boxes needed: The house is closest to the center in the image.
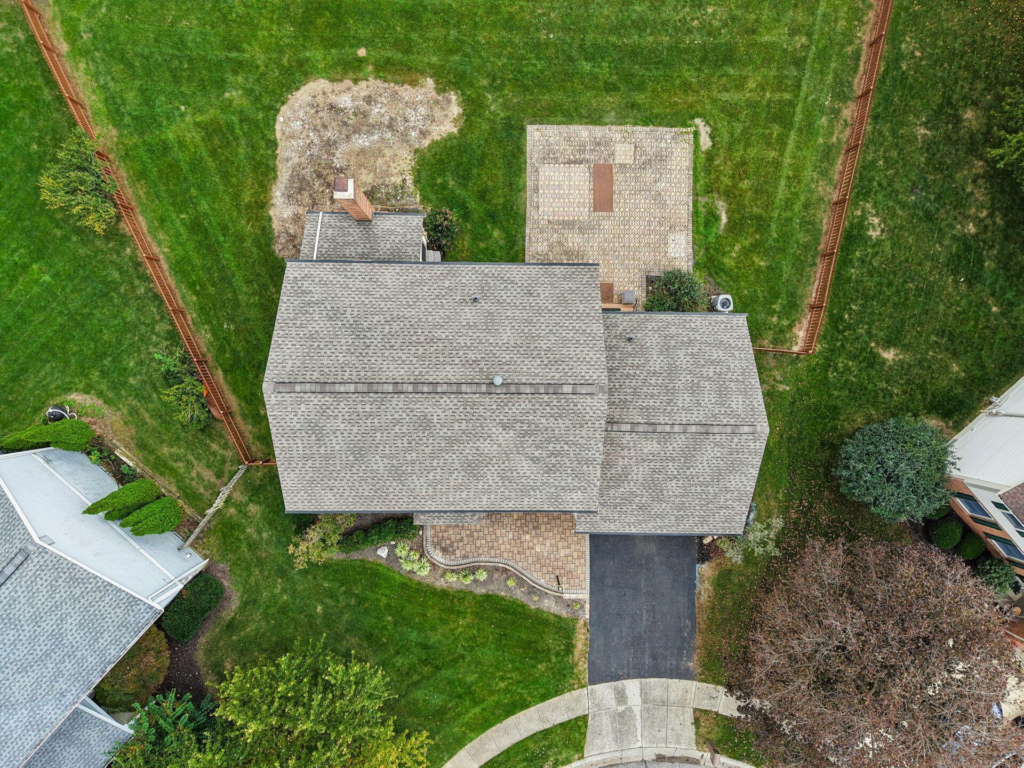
[262,176,769,537]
